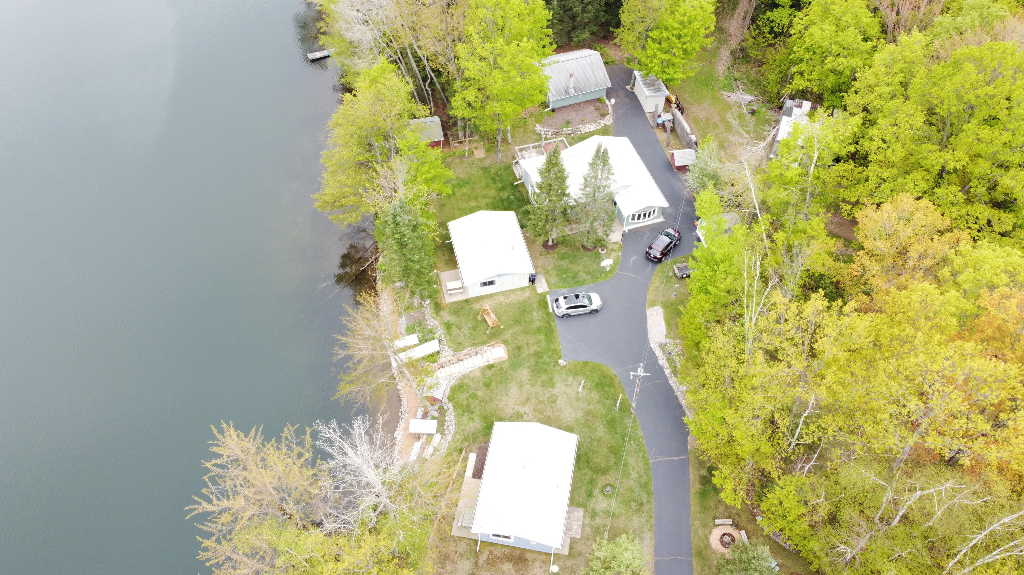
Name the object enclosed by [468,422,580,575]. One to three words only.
house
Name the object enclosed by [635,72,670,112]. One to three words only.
shed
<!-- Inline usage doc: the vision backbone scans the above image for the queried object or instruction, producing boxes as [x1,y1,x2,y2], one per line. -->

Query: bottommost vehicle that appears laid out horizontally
[552,290,602,316]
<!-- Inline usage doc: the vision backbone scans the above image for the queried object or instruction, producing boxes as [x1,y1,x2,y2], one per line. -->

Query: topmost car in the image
[645,226,681,260]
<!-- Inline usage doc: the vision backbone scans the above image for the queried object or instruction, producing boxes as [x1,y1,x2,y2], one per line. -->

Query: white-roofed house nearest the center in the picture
[445,210,536,298]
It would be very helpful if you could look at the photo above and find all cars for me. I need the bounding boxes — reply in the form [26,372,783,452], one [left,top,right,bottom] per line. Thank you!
[552,290,602,316]
[645,226,681,260]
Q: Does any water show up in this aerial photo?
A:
Yes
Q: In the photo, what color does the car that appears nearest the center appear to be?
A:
white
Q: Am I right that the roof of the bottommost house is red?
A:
No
